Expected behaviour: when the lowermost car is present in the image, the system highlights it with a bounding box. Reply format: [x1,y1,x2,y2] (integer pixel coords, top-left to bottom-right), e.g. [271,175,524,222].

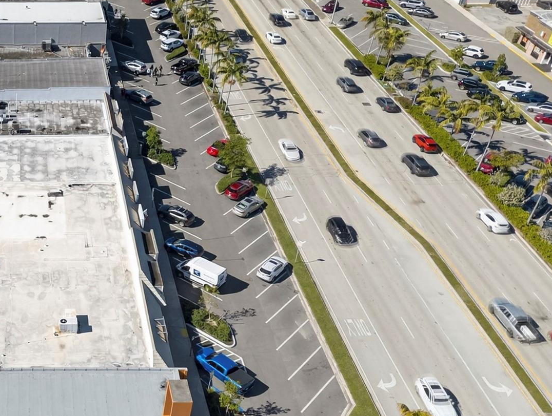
[416,377,460,416]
